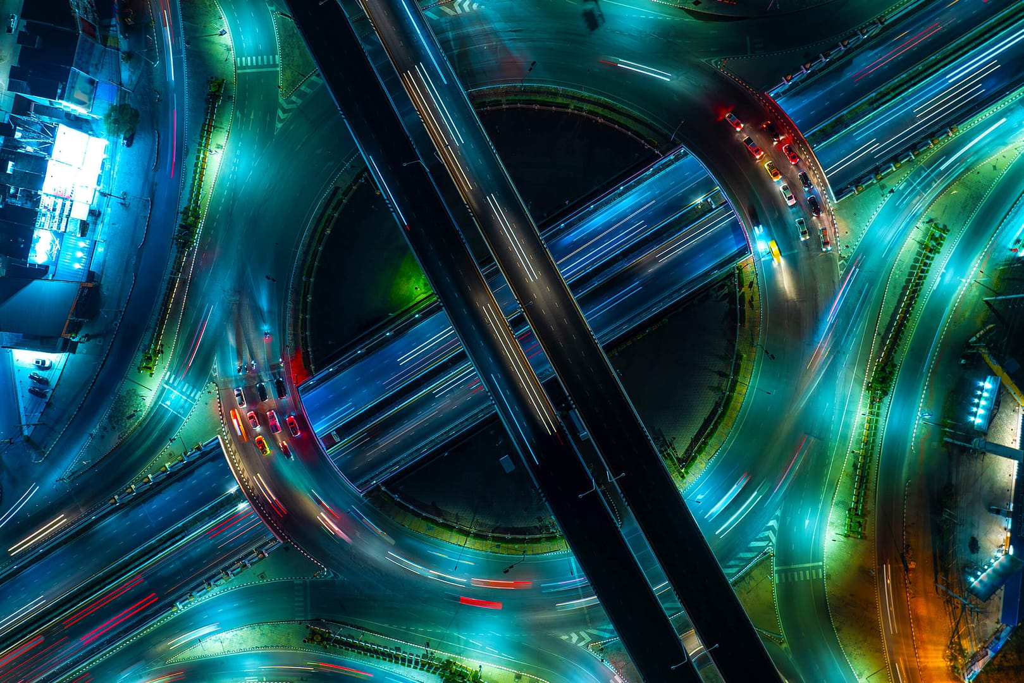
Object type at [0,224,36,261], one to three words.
building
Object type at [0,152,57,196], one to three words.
building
